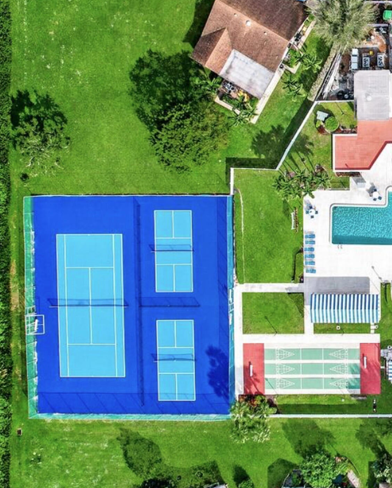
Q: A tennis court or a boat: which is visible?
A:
tennis court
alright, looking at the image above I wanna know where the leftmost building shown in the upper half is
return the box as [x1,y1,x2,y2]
[190,0,309,102]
